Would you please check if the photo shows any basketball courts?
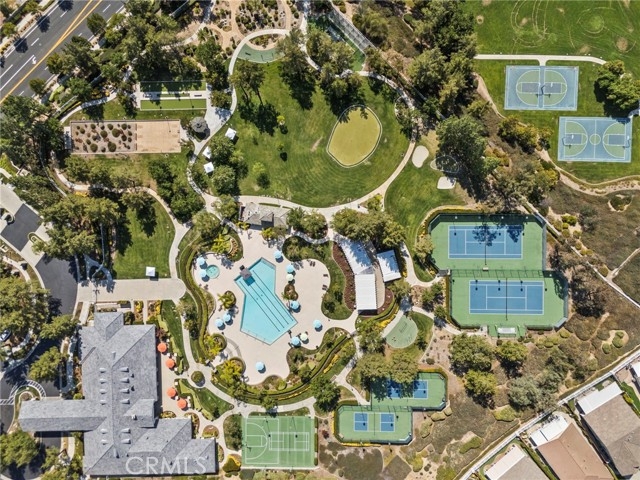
Yes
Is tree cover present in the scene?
Yes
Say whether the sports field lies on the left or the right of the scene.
right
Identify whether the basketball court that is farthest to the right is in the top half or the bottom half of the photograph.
top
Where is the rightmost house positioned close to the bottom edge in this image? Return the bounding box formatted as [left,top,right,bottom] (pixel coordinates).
[574,381,640,479]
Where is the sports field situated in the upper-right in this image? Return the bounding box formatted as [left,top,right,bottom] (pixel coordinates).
[449,0,640,183]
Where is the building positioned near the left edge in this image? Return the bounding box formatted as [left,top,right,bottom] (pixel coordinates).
[19,312,216,476]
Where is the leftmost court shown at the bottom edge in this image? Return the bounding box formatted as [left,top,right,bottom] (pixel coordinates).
[241,416,314,468]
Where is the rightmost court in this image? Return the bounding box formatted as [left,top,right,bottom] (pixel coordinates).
[556,116,635,164]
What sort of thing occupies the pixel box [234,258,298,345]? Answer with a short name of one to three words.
swimming pool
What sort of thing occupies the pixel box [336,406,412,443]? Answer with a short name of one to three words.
sports court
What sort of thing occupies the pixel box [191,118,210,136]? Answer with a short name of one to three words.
gazebo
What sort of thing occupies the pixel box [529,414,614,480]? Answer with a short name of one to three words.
house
